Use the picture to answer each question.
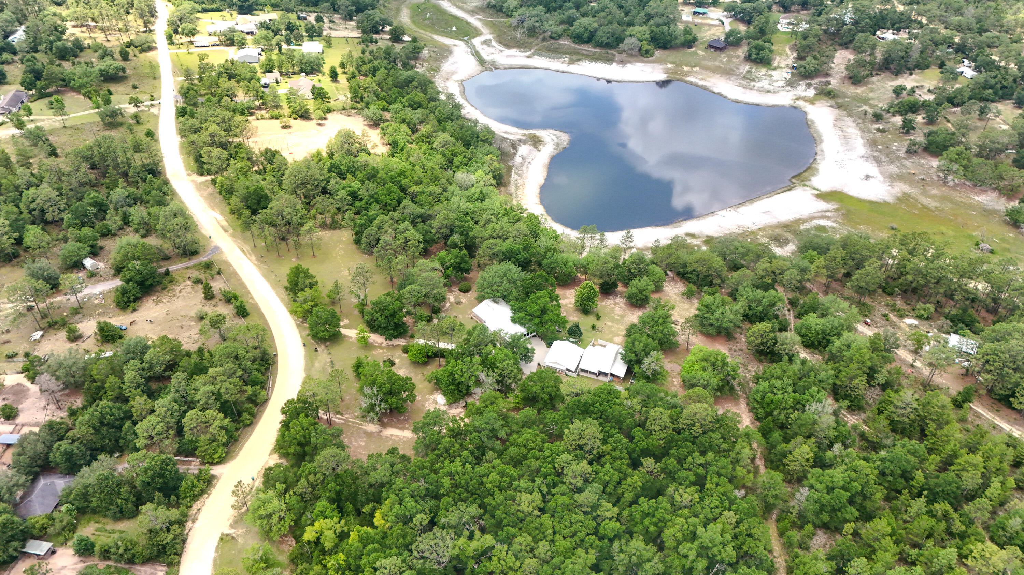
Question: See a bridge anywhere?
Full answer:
No, the frame has no bridge in it.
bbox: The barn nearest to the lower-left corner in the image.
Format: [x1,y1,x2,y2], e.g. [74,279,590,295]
[23,538,55,559]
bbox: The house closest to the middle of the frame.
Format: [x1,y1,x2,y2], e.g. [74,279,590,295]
[472,302,527,350]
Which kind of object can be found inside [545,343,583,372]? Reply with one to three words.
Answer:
building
